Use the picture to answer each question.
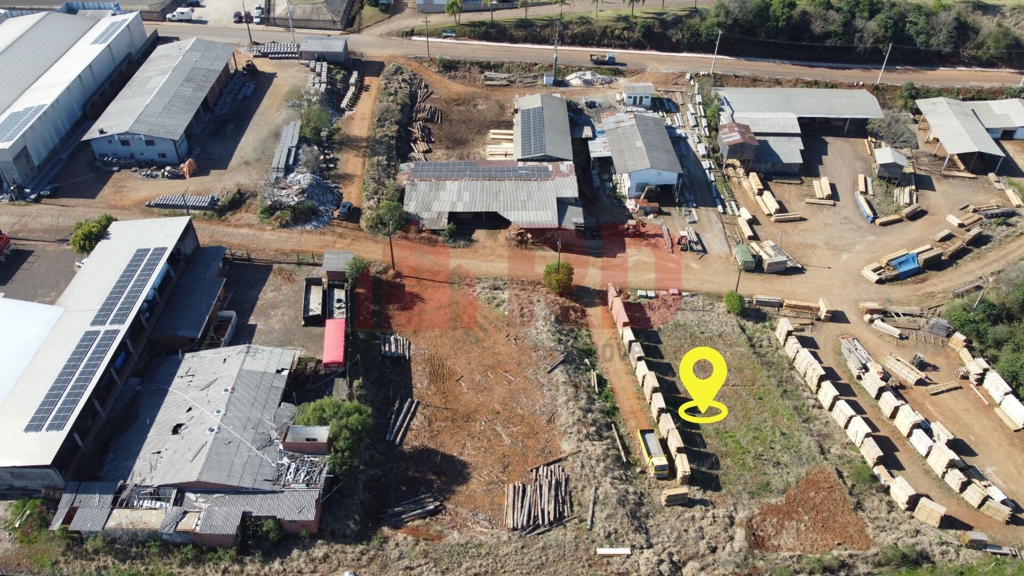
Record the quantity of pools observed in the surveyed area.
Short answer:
0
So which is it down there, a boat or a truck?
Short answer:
truck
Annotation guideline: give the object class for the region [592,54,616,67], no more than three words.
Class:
vehicle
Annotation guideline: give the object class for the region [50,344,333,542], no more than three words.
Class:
house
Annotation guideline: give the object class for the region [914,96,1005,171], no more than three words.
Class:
barn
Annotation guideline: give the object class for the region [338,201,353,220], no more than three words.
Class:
car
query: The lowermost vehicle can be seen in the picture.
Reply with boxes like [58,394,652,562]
[640,426,673,477]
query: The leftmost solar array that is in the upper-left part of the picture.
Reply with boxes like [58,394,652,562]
[0,104,47,146]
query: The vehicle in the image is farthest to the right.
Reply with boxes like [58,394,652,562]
[907,345,940,373]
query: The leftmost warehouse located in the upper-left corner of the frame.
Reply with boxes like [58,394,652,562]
[0,0,146,187]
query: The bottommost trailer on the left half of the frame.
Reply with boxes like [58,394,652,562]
[323,319,349,381]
